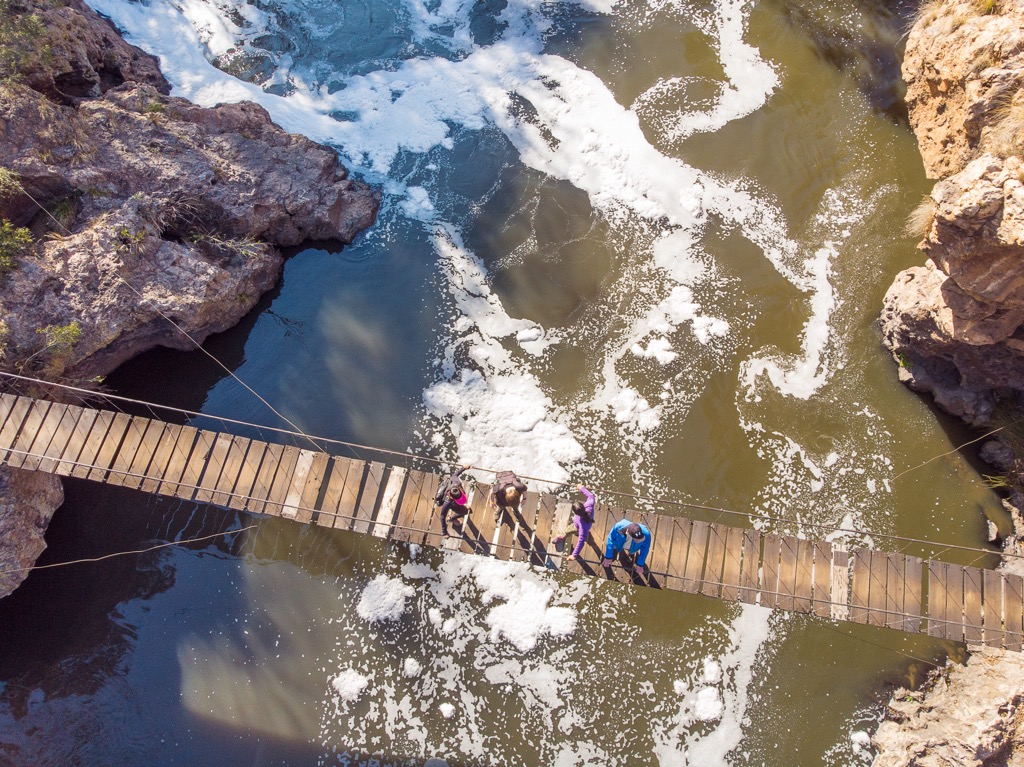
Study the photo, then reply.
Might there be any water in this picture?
Yes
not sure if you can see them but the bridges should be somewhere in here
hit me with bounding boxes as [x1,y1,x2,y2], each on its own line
[0,372,1024,655]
